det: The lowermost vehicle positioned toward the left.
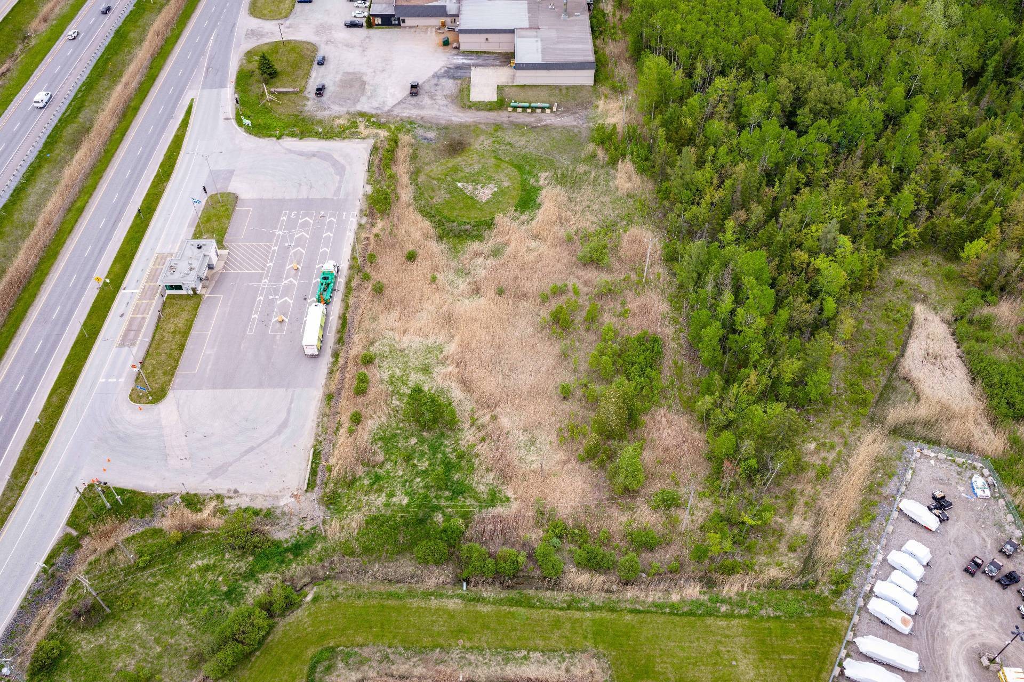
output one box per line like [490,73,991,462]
[304,305,325,356]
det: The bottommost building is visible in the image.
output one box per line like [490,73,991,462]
[157,238,218,296]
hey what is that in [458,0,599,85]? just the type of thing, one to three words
building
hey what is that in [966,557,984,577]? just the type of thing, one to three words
vehicle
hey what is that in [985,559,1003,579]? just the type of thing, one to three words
vehicle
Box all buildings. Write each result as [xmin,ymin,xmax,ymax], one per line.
[157,238,218,296]
[458,0,599,85]
[369,0,401,26]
